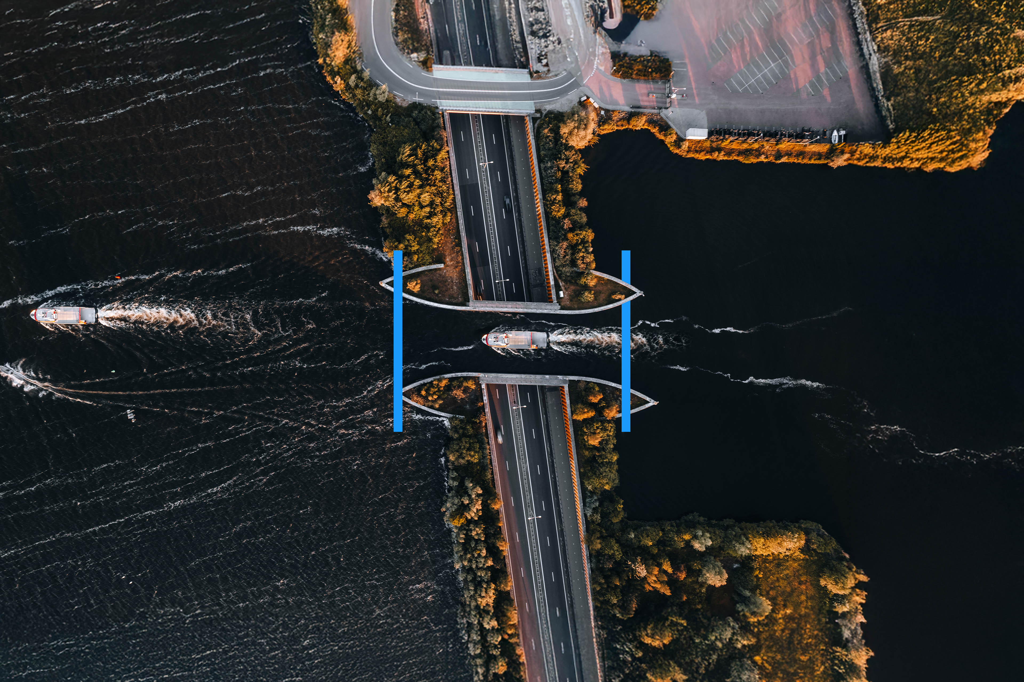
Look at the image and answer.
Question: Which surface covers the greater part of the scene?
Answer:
water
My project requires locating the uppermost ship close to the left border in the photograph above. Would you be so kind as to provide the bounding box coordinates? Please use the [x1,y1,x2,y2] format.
[27,306,101,325]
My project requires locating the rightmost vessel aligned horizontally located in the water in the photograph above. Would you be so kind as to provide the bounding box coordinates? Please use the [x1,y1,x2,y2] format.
[481,331,549,349]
